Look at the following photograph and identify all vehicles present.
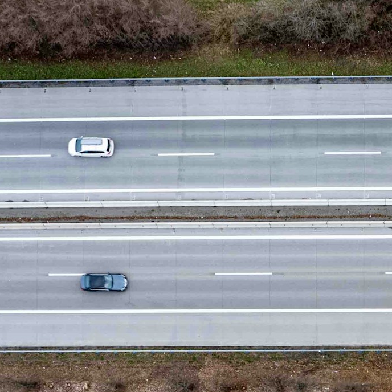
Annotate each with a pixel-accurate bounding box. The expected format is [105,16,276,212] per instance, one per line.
[69,137,115,157]
[80,272,130,292]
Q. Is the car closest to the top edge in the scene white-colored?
Yes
